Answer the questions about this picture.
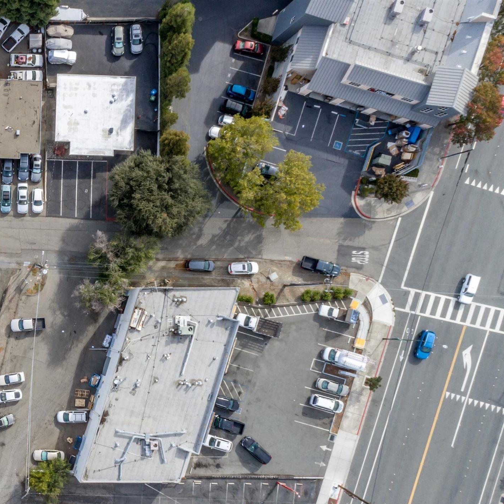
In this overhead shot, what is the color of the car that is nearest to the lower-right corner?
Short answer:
blue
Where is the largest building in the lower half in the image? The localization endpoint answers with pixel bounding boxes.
[74,288,241,484]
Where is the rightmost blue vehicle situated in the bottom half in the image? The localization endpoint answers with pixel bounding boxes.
[415,330,436,360]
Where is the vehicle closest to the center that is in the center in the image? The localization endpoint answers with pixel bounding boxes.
[227,260,259,274]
